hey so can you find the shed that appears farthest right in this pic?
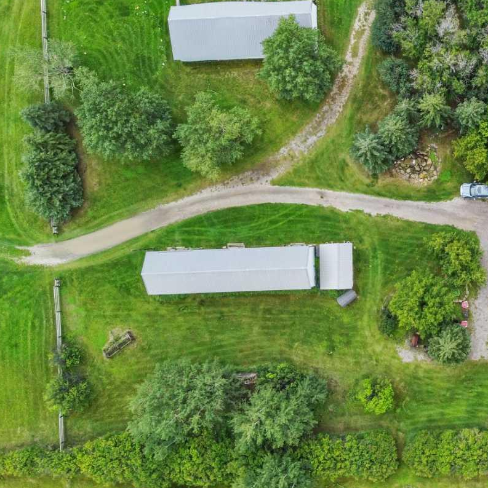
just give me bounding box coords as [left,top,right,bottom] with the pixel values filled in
[319,241,356,290]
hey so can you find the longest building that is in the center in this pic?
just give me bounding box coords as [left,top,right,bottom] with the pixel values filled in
[141,242,317,294]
